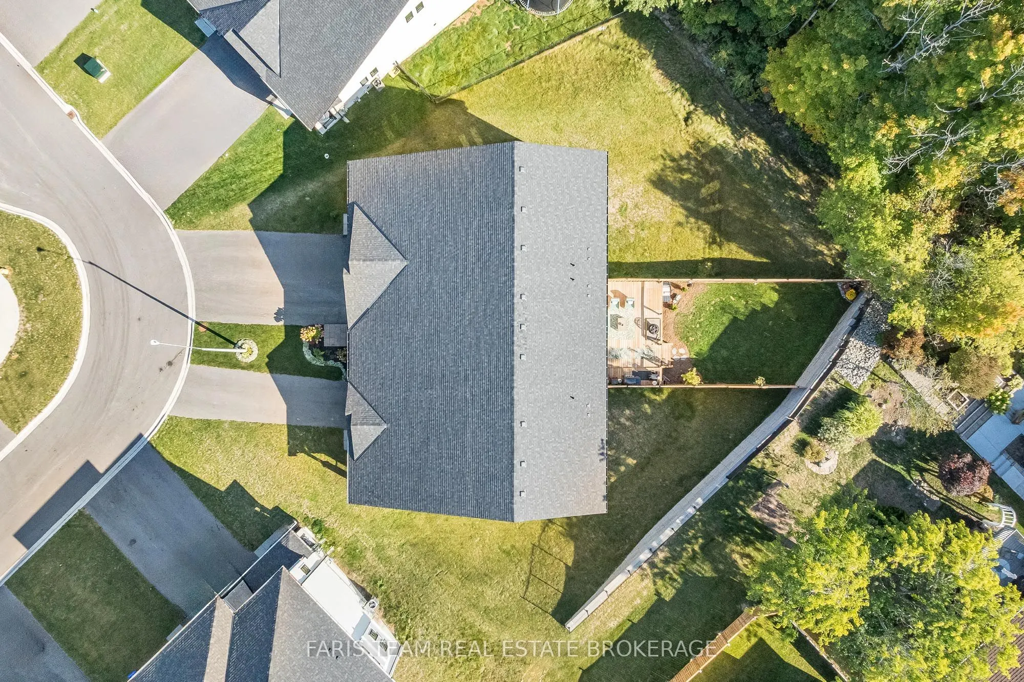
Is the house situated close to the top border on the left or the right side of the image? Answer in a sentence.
It is on the left.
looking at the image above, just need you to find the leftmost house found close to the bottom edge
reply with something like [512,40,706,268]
[121,514,404,682]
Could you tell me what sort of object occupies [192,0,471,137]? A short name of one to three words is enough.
house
